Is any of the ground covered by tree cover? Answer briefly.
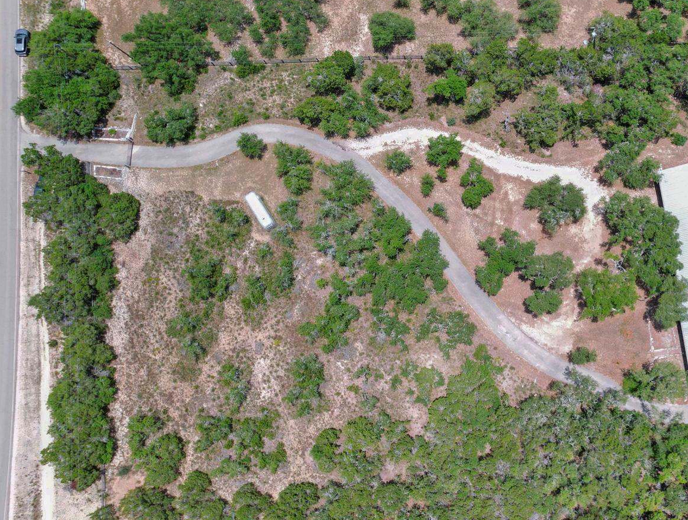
Yes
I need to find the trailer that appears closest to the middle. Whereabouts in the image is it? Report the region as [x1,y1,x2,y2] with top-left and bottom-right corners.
[244,191,276,230]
